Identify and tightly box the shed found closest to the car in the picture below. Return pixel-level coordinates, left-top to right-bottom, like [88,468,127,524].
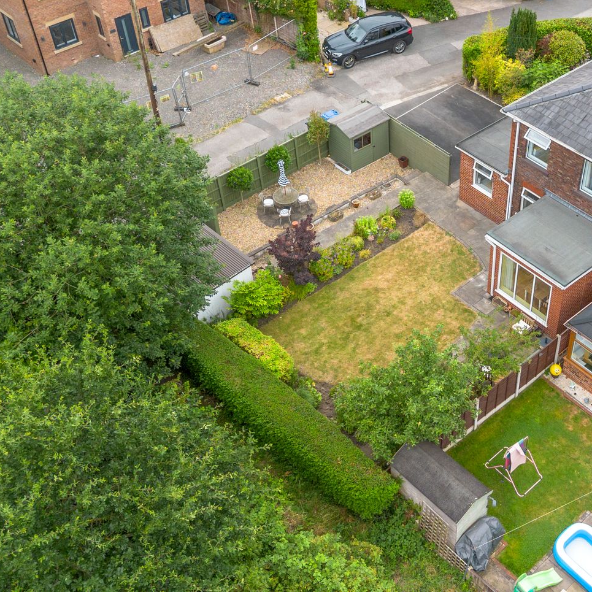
[326,104,392,174]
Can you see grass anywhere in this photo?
Yes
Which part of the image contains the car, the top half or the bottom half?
top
